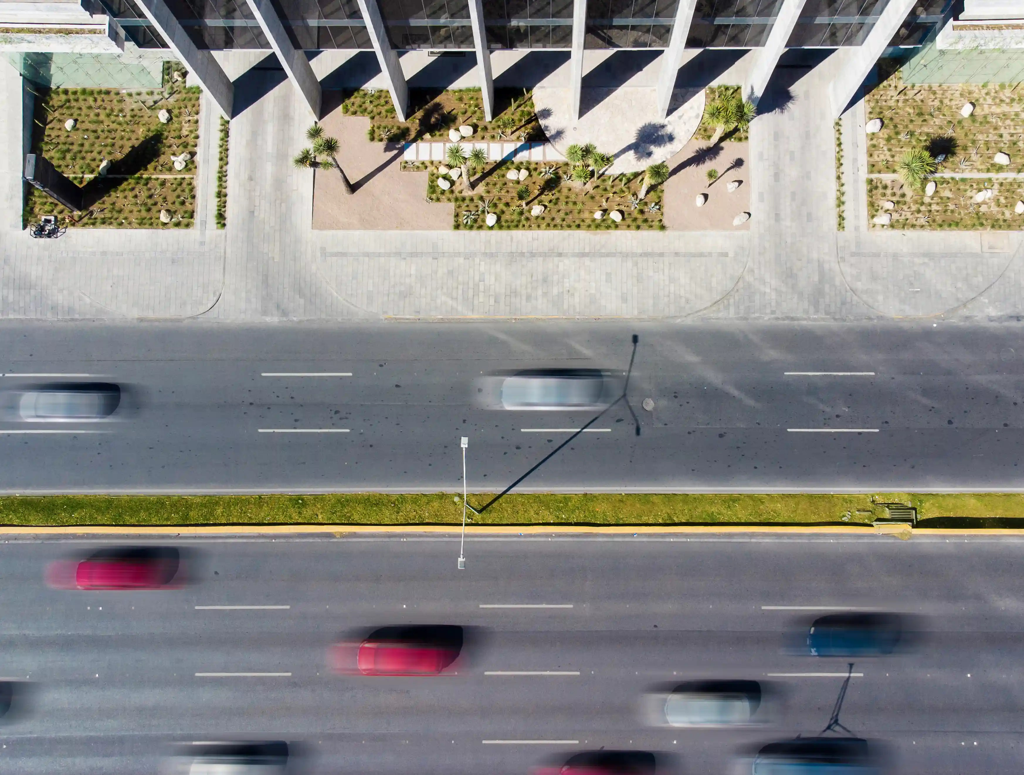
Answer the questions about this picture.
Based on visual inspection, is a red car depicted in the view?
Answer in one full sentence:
Yes, the photo shows a red car.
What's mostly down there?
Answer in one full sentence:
Most of the picture is covered by paved ground.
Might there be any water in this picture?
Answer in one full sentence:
No, the picture contains no water.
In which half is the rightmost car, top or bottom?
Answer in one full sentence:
The bottom half of the photo is where the rightmost car is.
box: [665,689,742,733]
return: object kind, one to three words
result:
car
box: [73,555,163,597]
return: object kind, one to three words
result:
car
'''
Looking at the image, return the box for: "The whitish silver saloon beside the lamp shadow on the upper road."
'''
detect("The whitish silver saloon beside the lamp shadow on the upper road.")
[501,374,585,414]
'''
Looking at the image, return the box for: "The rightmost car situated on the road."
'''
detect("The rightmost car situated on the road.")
[807,621,881,664]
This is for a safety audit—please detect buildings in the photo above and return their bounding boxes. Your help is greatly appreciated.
[97,0,953,123]
[903,0,1024,85]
